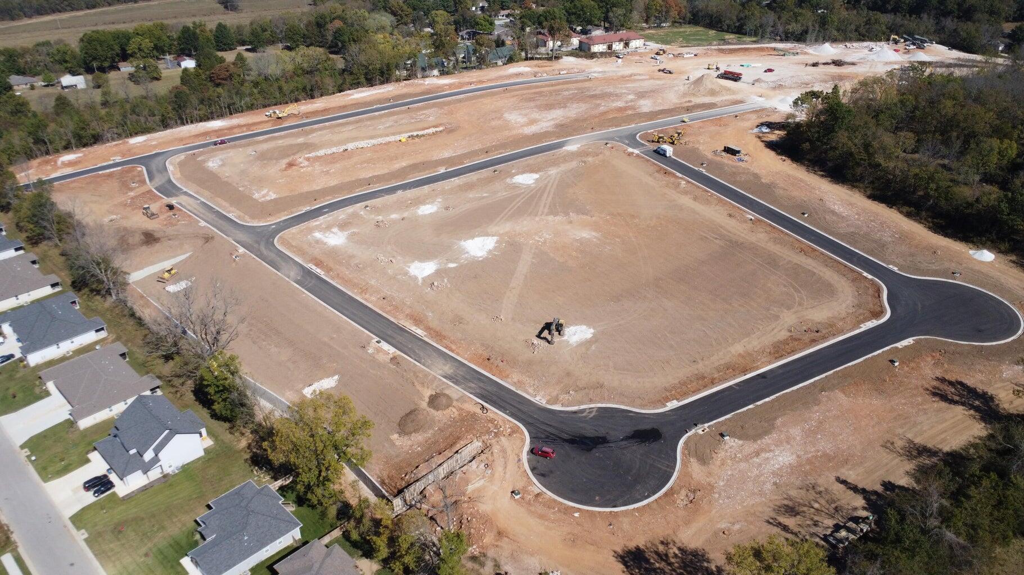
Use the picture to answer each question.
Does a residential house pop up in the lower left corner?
Yes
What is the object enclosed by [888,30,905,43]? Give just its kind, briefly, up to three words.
vehicle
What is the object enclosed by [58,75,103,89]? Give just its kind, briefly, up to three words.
barn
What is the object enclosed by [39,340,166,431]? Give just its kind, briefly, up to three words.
house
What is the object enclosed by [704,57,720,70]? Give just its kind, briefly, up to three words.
vehicle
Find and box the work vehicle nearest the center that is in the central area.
[550,318,572,348]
